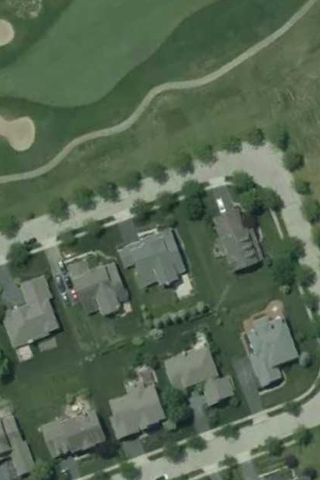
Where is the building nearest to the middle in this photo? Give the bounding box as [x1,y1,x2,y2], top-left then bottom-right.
[115,228,193,299]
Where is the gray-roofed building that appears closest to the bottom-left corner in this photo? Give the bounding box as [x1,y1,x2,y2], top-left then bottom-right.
[0,413,34,474]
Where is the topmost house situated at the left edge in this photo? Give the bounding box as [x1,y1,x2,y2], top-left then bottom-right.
[0,278,62,361]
